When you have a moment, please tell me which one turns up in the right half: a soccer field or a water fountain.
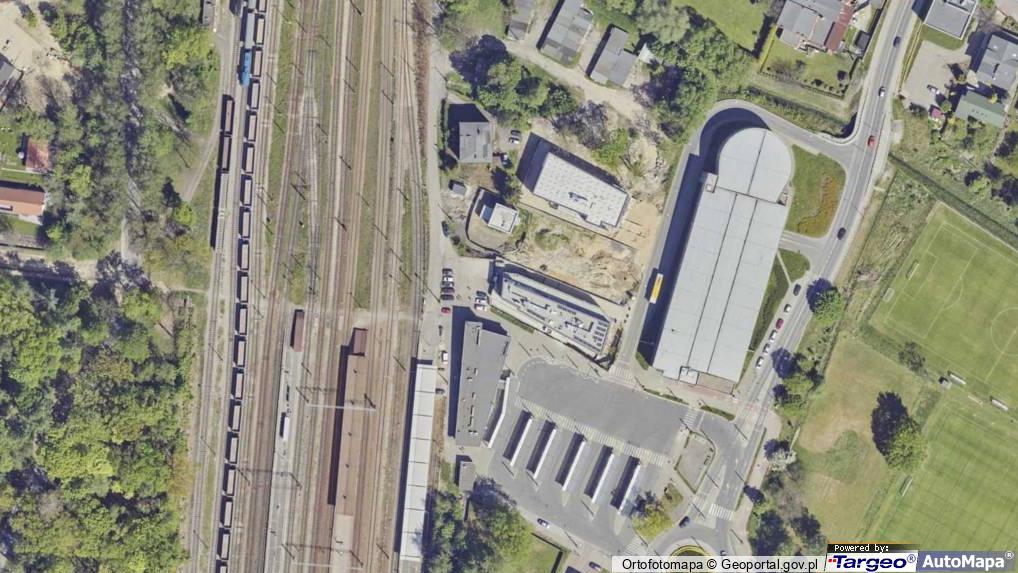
soccer field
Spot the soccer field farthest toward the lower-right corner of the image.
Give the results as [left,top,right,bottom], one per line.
[862,402,1018,573]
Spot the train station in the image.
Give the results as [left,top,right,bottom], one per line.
[264,306,438,573]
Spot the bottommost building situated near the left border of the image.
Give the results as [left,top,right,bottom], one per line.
[0,188,46,217]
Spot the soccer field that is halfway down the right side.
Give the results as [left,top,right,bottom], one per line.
[870,204,1018,409]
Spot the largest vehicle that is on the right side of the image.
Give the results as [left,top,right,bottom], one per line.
[650,274,664,302]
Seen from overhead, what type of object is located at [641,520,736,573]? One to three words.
roundabout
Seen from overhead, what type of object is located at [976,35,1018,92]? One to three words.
house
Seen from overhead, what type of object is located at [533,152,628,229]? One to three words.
building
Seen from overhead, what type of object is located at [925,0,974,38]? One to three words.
house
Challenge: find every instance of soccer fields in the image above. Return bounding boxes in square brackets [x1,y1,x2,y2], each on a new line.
[862,402,1018,573]
[870,204,1018,409]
